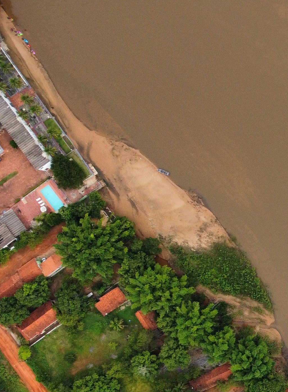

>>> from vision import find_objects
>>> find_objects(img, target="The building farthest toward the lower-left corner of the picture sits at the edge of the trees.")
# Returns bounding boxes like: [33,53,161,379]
[17,301,61,346]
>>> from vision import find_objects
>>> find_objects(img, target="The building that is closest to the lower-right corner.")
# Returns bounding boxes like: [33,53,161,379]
[192,363,235,392]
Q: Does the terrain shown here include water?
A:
Yes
